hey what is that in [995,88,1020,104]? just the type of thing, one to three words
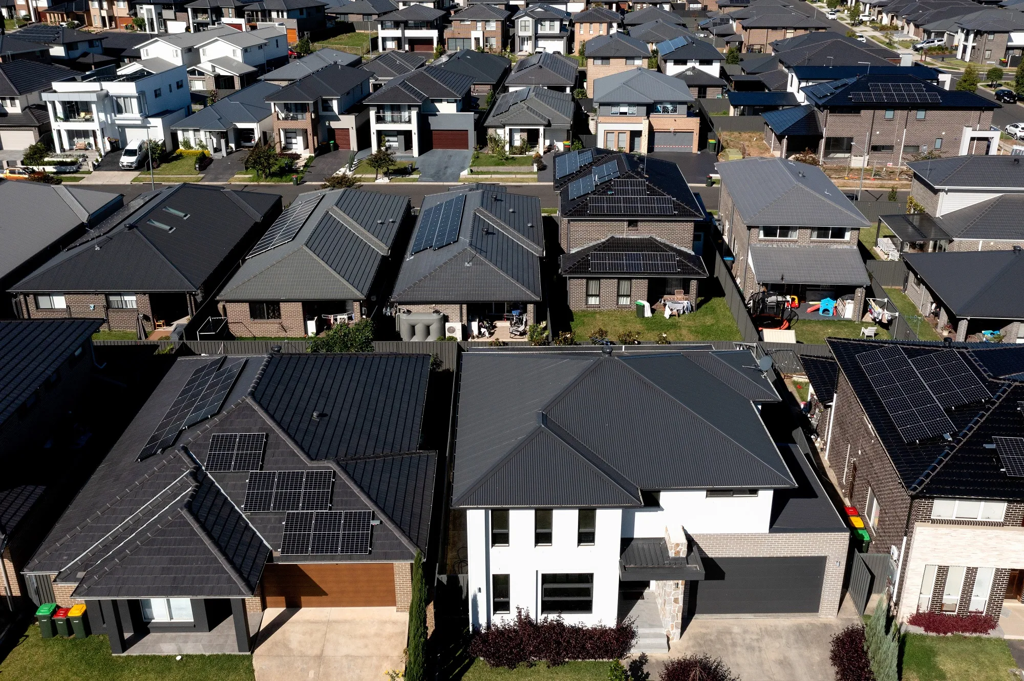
car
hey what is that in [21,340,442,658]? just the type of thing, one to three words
house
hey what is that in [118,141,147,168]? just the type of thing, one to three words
vehicle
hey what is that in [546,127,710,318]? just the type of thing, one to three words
house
